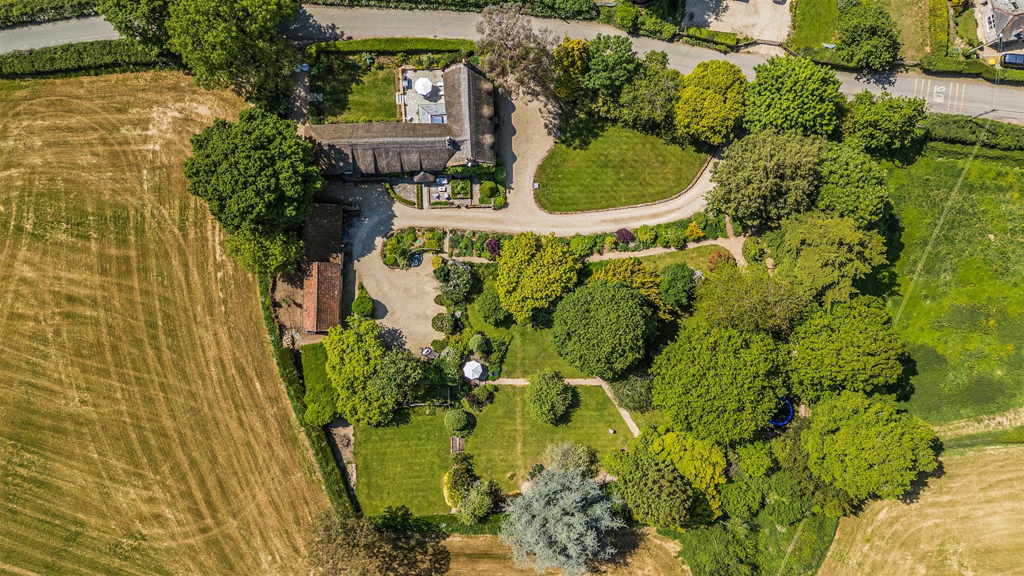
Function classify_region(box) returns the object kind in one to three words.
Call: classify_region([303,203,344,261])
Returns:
barn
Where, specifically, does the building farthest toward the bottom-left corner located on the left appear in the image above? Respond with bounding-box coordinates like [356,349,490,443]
[303,261,343,333]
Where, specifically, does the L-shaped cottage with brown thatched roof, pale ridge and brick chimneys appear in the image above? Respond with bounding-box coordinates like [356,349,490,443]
[305,61,504,184]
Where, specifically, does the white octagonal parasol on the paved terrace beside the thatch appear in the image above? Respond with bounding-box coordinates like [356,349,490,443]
[415,78,434,97]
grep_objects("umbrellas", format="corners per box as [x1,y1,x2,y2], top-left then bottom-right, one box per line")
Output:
[464,359,482,378]
[415,78,434,97]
